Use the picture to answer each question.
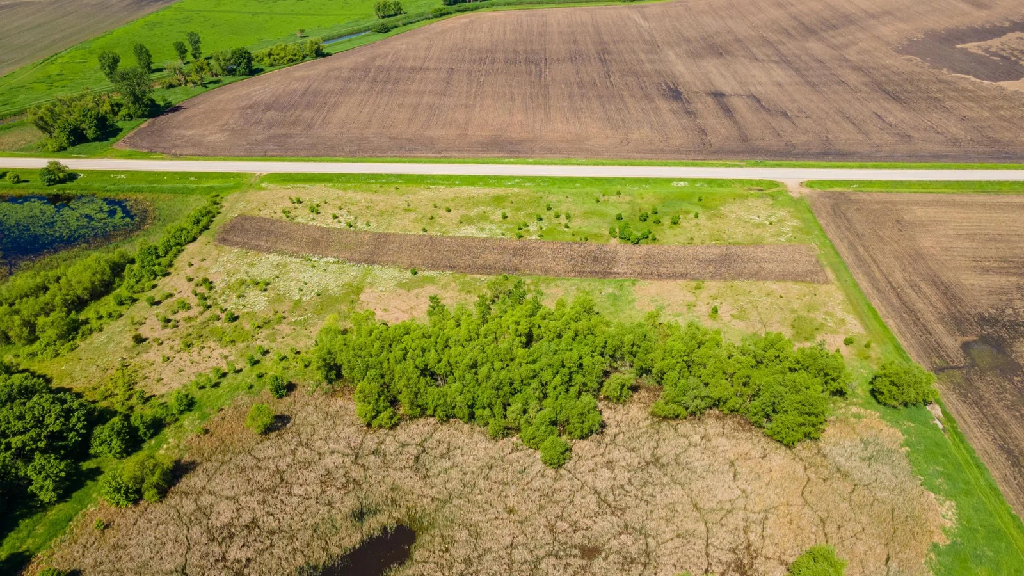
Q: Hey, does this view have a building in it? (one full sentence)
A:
No, the picture doesn't show any building.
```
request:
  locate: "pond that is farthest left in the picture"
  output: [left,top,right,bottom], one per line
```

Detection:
[0,193,145,274]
